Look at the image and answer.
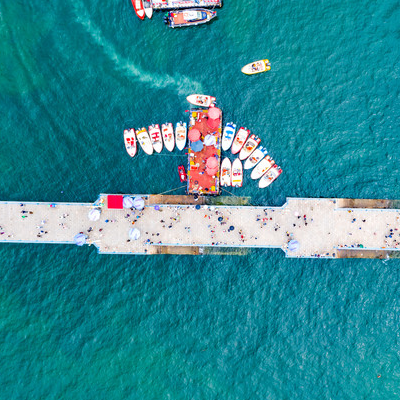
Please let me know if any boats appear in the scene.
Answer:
Yes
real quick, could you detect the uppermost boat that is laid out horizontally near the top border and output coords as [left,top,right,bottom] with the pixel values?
[167,7,218,28]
